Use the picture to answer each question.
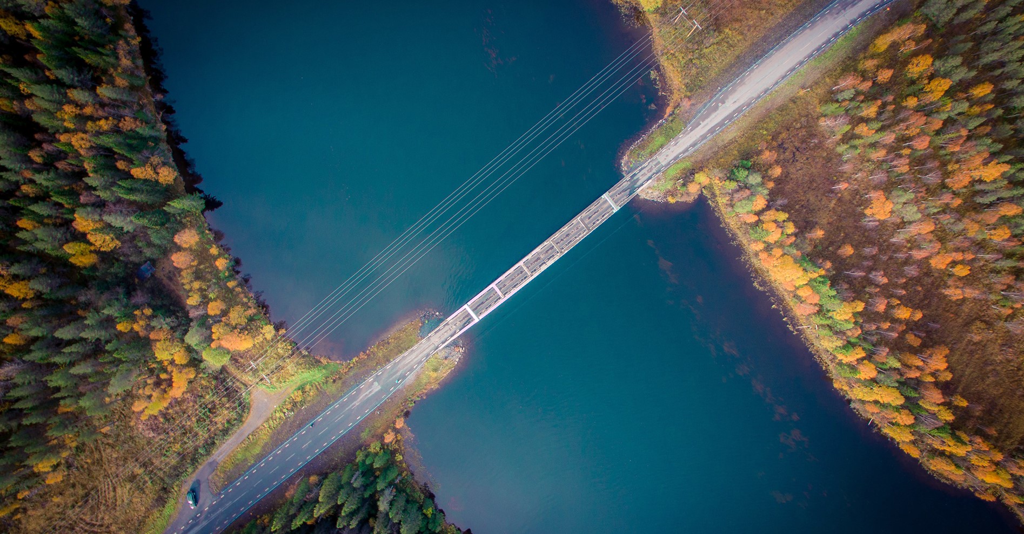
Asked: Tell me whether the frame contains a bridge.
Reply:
Yes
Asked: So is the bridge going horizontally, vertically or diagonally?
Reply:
diagonally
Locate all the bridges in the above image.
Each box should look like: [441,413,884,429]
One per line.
[429,165,650,353]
